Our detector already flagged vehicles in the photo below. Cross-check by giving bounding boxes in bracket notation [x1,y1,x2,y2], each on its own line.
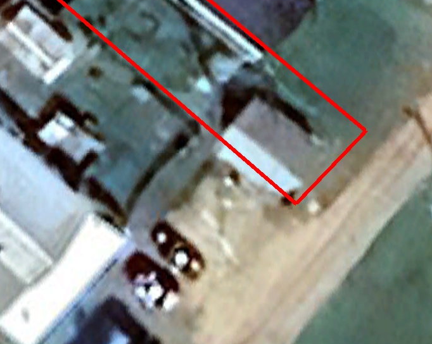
[145,218,208,281]
[117,247,185,316]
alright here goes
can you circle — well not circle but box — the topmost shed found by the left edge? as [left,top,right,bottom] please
[0,4,77,84]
